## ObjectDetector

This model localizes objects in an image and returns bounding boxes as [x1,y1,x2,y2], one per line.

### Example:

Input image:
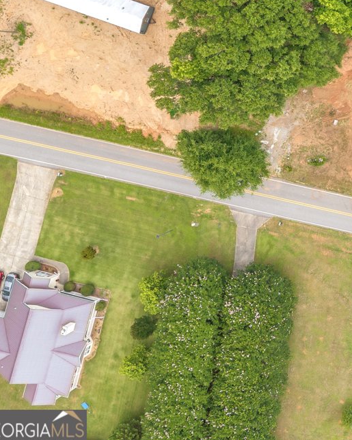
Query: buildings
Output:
[0,269,100,406]
[46,0,161,34]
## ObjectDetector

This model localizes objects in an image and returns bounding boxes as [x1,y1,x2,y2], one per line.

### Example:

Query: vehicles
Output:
[1,272,20,300]
[0,271,5,294]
